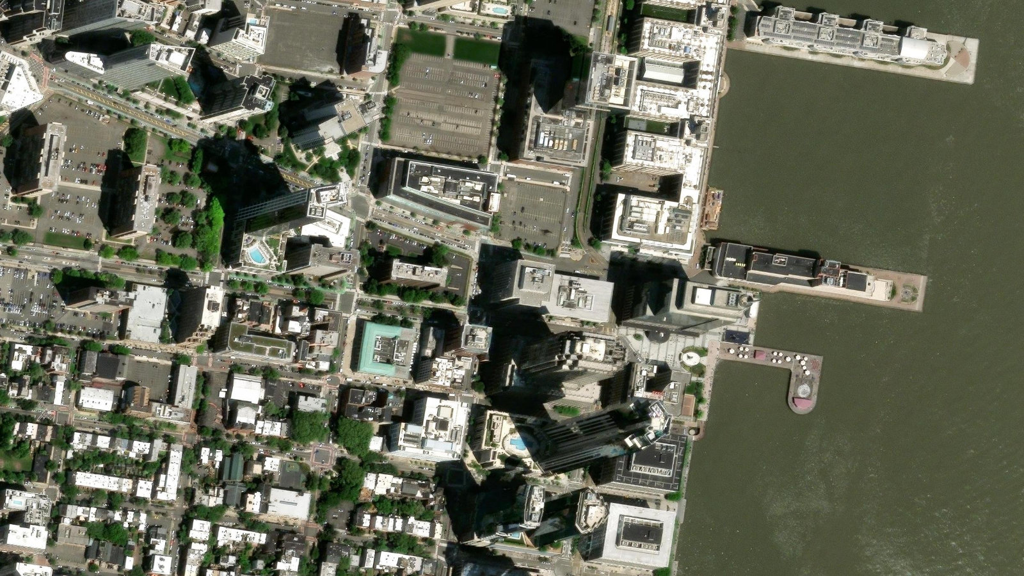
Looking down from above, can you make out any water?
Yes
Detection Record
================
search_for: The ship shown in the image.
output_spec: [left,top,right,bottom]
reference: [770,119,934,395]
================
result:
[701,187,723,230]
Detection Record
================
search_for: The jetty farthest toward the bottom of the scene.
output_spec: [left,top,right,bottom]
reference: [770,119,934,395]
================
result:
[717,343,822,414]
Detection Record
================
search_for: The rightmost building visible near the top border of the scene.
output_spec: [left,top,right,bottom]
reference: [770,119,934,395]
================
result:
[748,6,946,66]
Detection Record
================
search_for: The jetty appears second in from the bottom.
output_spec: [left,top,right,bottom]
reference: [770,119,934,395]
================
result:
[745,265,919,312]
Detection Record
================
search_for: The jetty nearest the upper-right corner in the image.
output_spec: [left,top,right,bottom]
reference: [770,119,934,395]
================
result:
[730,7,978,84]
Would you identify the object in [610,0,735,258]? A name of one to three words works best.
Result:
building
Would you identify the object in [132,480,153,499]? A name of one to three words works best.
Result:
house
